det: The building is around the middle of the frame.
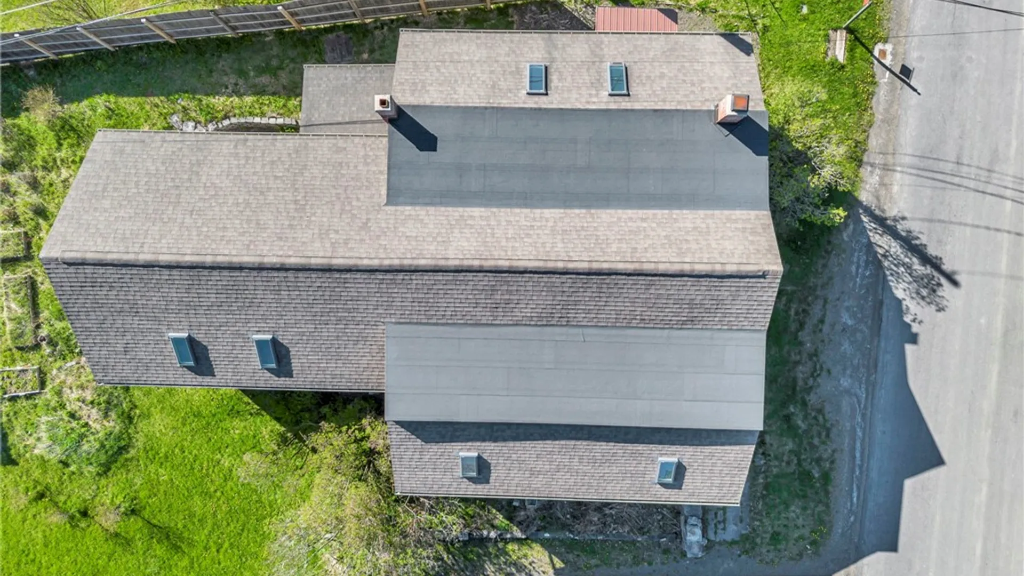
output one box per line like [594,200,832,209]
[39,27,782,508]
